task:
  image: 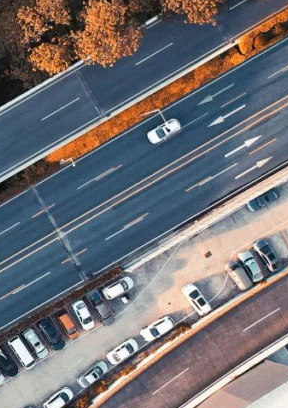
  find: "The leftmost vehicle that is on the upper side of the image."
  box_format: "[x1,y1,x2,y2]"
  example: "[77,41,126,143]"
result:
[145,118,180,144]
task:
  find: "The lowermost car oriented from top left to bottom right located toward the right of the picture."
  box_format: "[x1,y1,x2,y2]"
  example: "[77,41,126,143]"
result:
[181,283,209,316]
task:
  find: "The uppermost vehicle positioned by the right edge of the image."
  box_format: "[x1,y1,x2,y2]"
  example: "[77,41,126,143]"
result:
[244,188,278,213]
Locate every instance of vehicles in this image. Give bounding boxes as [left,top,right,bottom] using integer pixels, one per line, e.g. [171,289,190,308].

[22,326,48,359]
[138,314,172,340]
[55,308,79,339]
[222,259,252,292]
[235,249,263,283]
[41,386,73,408]
[37,316,64,349]
[250,238,279,271]
[4,330,34,370]
[74,361,107,388]
[87,289,115,324]
[244,188,278,213]
[0,344,18,378]
[181,283,209,316]
[99,275,133,300]
[69,297,95,331]
[145,118,180,144]
[105,338,138,364]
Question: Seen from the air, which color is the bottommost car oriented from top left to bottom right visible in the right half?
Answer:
white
